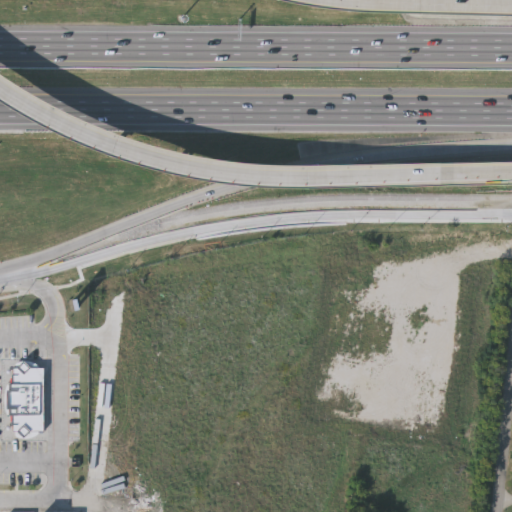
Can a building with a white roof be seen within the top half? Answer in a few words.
No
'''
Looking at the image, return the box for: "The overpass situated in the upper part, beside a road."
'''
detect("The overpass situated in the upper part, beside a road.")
[0,74,512,188]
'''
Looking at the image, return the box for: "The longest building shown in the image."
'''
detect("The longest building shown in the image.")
[4,361,44,438]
